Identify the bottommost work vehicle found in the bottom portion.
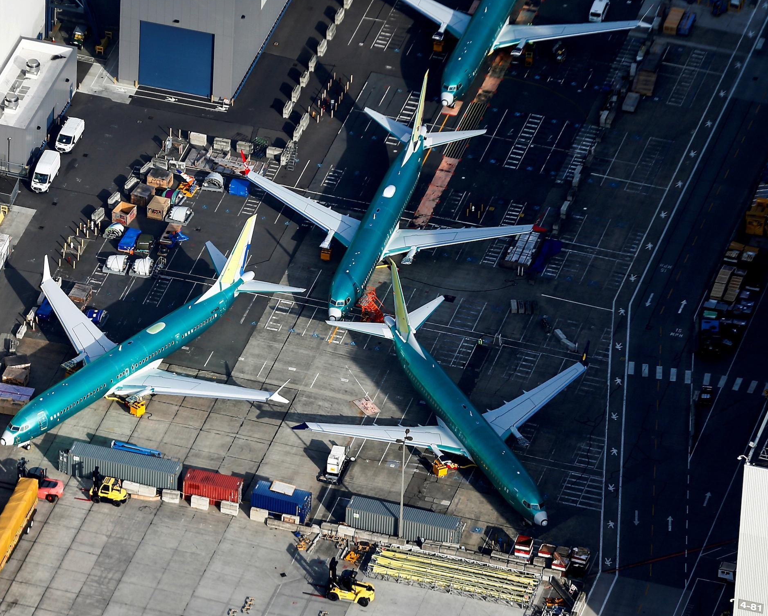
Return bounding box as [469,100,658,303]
[302,551,380,610]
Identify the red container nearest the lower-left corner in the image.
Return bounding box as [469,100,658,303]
[185,467,247,508]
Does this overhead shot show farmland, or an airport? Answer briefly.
airport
